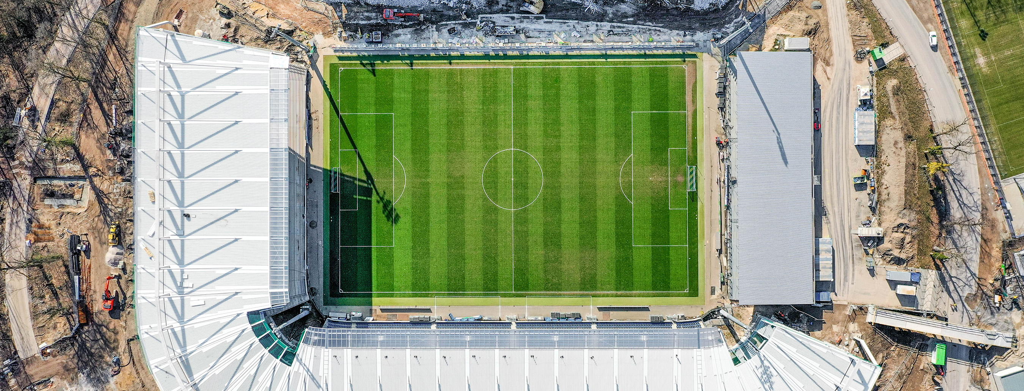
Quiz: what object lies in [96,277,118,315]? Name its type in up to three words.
work vehicle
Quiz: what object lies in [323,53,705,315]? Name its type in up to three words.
soccer field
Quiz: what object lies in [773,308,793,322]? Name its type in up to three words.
work vehicle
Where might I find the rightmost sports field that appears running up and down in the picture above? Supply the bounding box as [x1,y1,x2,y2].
[944,0,1024,179]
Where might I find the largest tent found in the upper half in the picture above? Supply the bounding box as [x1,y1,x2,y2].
[853,111,875,146]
